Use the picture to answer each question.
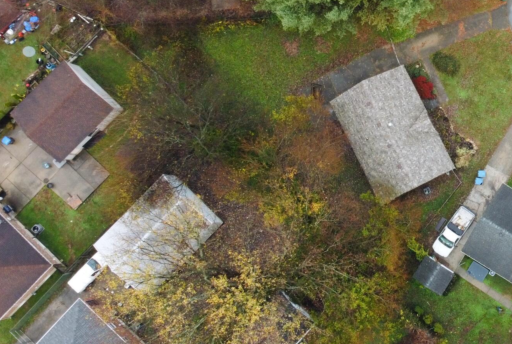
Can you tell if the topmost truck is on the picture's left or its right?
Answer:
right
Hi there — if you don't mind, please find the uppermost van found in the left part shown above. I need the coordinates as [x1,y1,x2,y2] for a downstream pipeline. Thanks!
[59,252,106,297]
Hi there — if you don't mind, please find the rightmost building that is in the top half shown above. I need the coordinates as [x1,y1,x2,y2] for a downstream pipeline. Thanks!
[329,64,455,207]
